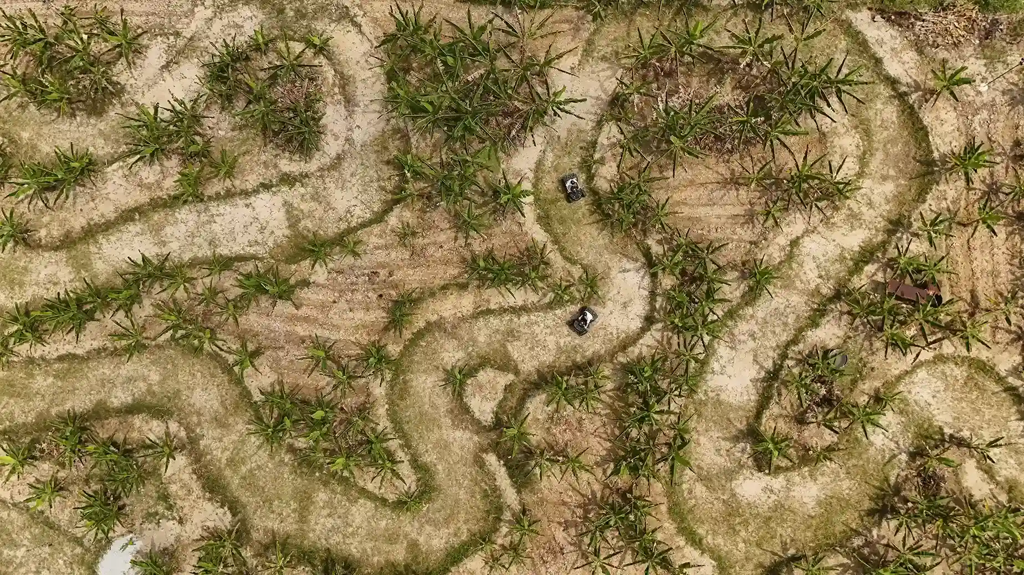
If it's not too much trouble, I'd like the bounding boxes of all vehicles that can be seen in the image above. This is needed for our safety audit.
[571,307,597,337]
[561,172,584,203]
